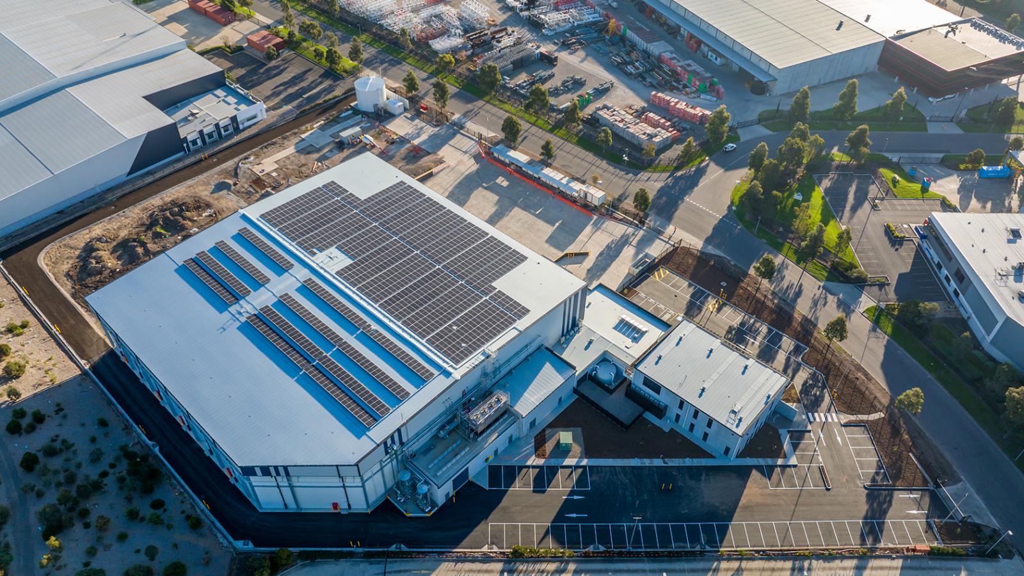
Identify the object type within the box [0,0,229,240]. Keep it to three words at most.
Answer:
warehouse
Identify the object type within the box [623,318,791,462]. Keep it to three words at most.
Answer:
building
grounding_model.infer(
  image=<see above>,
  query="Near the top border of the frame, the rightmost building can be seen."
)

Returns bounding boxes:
[876,15,1024,102]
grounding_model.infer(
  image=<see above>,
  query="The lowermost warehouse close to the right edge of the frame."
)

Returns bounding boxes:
[911,211,1024,369]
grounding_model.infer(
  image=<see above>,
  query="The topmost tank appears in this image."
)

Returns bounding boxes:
[354,76,392,120]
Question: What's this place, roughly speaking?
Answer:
industrial area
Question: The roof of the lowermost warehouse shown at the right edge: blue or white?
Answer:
white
